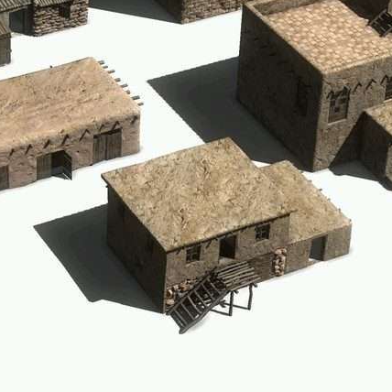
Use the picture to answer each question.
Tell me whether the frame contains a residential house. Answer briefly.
Yes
